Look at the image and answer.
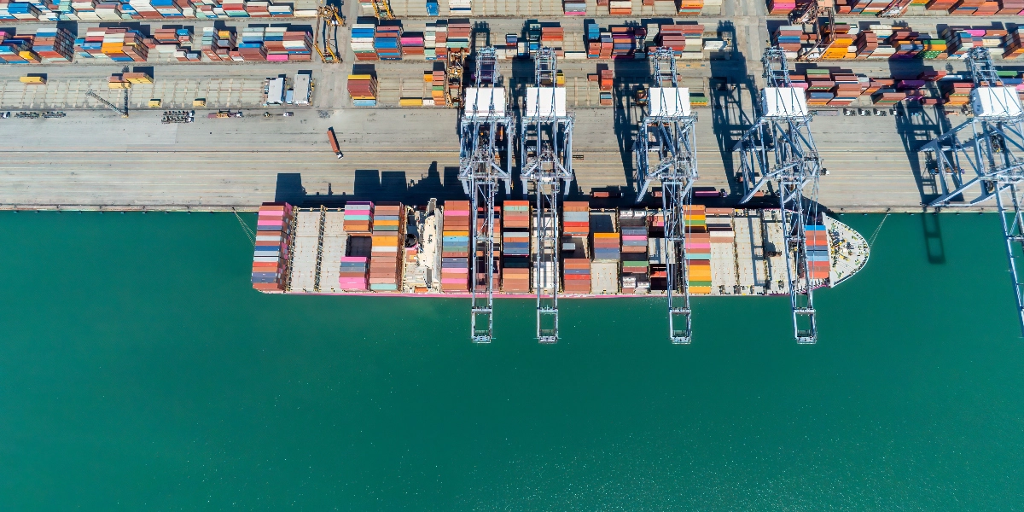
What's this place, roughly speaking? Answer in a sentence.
The picture captures a port.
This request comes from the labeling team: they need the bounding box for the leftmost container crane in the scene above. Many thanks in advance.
[312,3,345,64]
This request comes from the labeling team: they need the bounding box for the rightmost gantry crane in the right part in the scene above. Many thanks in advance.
[917,42,1024,347]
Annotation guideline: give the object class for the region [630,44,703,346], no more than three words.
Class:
container crane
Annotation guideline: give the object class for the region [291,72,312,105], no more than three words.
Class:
shed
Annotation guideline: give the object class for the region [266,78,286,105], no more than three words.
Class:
shed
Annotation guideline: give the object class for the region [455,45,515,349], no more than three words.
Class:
container crane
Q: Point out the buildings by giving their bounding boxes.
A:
[291,72,312,105]
[266,78,286,105]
